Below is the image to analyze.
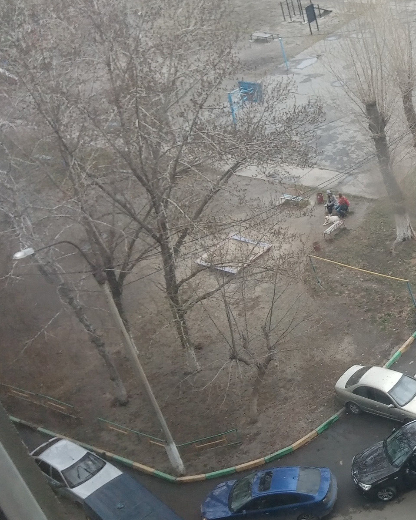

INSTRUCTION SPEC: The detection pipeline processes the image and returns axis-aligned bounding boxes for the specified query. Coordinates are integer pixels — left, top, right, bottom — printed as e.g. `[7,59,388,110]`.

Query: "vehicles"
[24,436,131,518]
[327,362,416,421]
[196,464,341,520]
[86,478,181,520]
[350,417,416,500]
